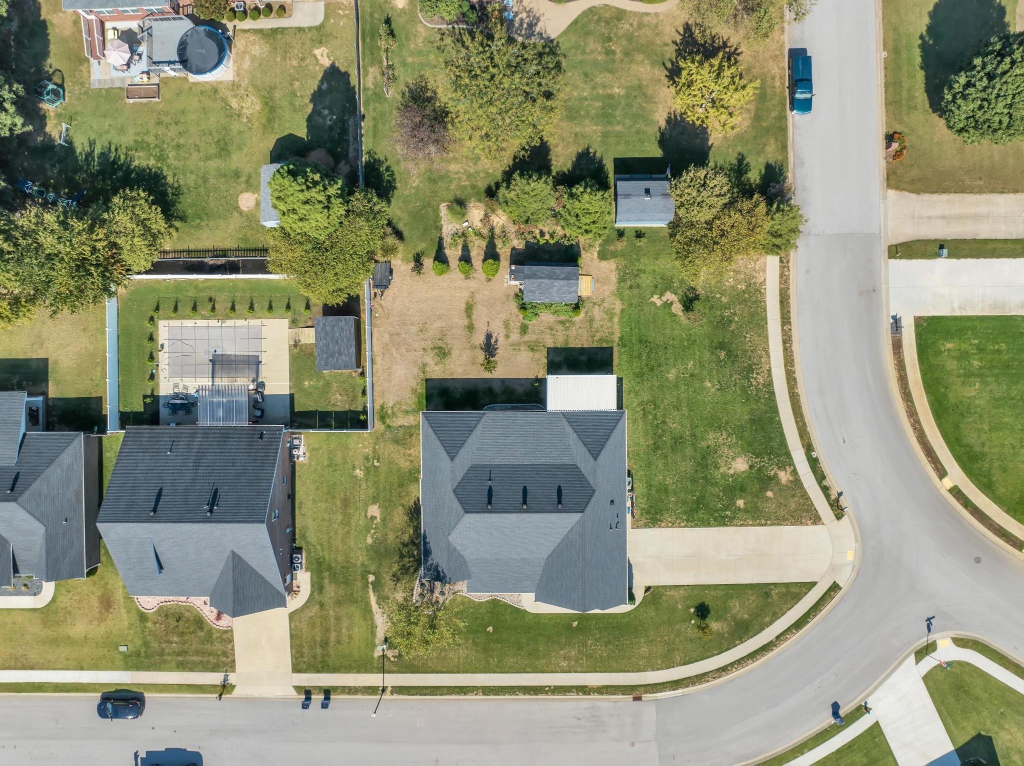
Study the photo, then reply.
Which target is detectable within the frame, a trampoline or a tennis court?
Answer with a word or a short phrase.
trampoline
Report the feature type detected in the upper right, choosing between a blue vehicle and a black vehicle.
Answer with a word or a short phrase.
blue vehicle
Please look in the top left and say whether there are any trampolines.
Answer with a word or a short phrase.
Yes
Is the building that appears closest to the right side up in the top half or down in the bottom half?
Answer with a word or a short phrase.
top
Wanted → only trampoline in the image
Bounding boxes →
[27,74,65,105]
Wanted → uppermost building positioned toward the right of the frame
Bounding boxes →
[613,177,673,228]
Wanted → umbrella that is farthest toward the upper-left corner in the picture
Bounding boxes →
[104,40,130,67]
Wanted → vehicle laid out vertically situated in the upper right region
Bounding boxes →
[789,57,816,119]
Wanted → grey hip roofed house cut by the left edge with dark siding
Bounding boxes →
[0,391,105,589]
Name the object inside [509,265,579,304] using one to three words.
shed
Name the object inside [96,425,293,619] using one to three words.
house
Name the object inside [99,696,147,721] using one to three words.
car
